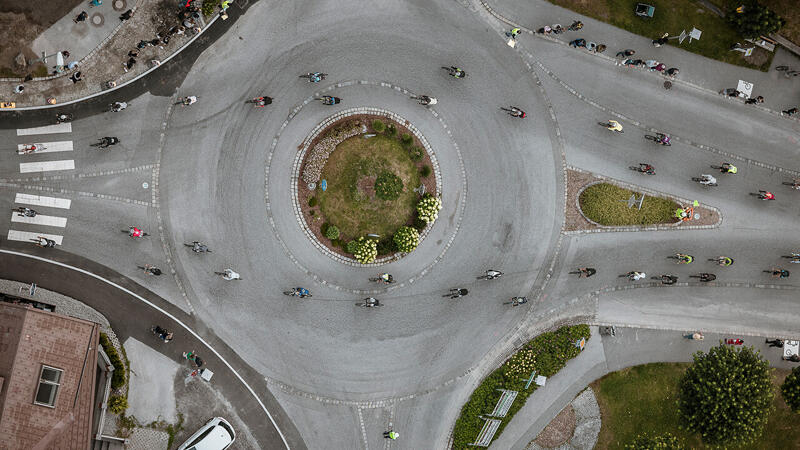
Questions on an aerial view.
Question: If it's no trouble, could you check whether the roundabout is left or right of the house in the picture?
to the right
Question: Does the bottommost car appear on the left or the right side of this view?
left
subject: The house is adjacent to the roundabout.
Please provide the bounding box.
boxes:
[0,294,128,450]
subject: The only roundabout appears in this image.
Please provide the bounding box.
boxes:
[155,0,566,405]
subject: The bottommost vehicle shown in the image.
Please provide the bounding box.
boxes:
[180,416,241,450]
